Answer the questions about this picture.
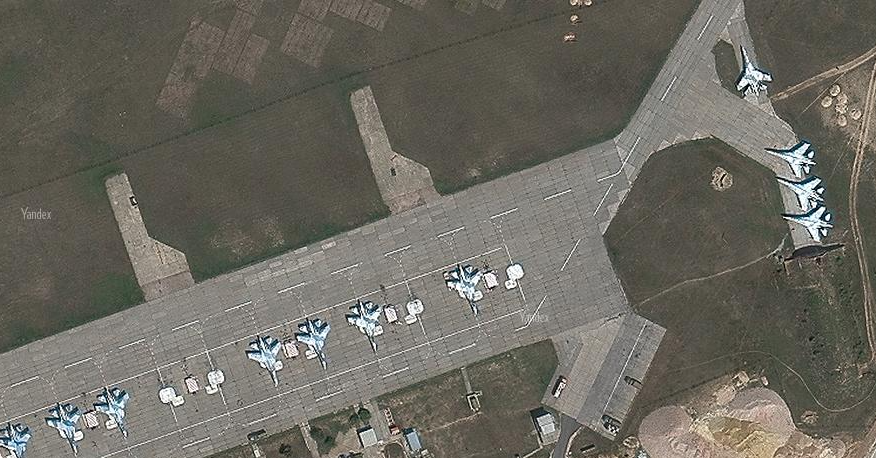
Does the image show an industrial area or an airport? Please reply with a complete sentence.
It's an airport.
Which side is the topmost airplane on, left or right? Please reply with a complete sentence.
The topmost airplane sits on the right side.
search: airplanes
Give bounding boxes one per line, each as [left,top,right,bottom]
[735,46,772,99]
[0,420,32,458]
[246,333,282,386]
[763,140,819,177]
[777,175,829,211]
[94,385,130,438]
[294,316,331,369]
[446,263,482,316]
[346,299,383,354]
[780,205,835,241]
[45,402,82,455]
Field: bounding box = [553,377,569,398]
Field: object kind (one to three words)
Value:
vehicle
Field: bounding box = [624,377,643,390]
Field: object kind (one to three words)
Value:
vehicle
